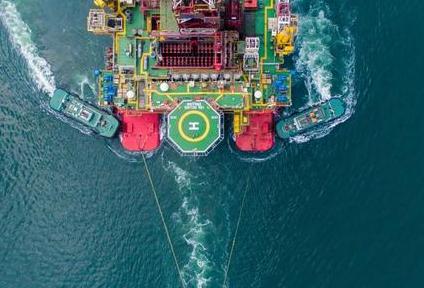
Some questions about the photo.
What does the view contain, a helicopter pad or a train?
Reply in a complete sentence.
Of the two, only a helicopter pad appears.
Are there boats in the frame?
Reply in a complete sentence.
Yes, the picture does show a boat.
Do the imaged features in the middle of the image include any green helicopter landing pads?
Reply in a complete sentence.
Yes, a green helicopter landing pad shows up in the middle of the image.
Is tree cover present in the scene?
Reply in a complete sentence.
No, no tree cover is visible.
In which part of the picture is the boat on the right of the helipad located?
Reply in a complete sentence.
The boat on the right of the helipad is located in the right region of the scene.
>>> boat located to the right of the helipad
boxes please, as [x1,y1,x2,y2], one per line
[276,97,347,141]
